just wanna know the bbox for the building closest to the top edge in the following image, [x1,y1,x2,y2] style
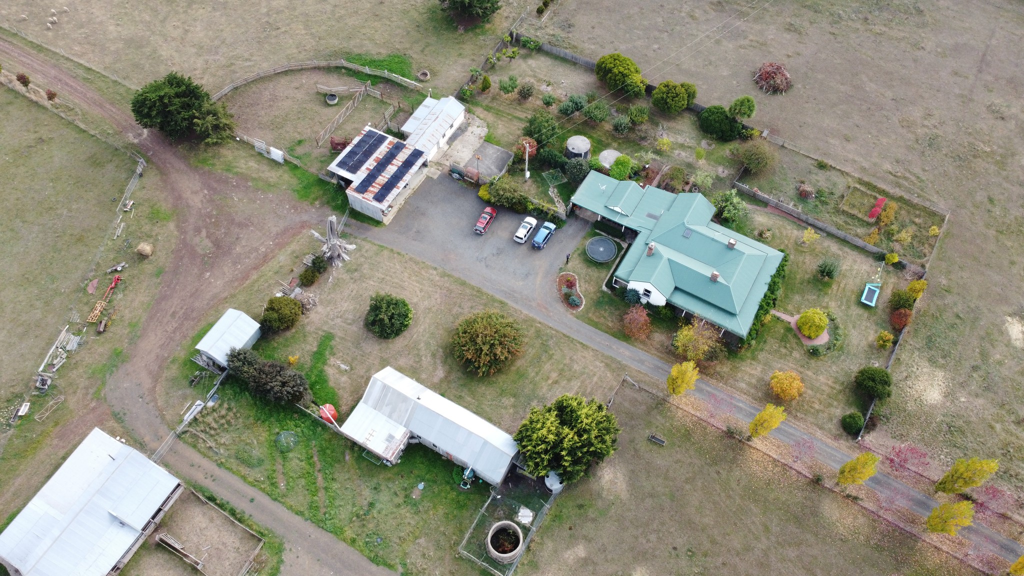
[401,97,466,160]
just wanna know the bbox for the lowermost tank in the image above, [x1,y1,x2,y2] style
[486,522,525,565]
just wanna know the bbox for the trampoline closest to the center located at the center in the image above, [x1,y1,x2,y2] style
[586,235,618,265]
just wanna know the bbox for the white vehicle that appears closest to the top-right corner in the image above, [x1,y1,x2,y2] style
[514,216,536,244]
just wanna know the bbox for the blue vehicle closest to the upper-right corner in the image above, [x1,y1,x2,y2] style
[533,222,554,250]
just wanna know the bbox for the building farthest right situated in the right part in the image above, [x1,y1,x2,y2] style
[570,169,784,345]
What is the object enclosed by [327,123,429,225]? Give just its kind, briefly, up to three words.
shed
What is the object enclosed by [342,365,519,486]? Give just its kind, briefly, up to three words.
shed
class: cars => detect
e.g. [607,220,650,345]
[474,207,495,235]
[514,216,536,244]
[533,222,554,250]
